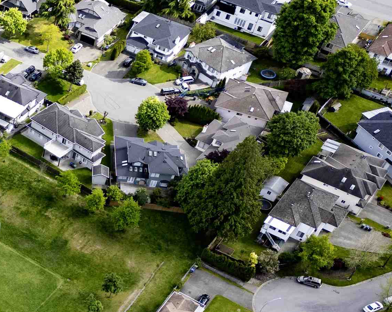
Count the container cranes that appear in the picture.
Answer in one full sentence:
The photo contains no container cranes.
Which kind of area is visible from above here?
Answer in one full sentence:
The area seen from above is a residential area.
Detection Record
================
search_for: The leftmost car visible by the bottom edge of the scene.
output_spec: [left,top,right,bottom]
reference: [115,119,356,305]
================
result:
[196,292,214,306]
